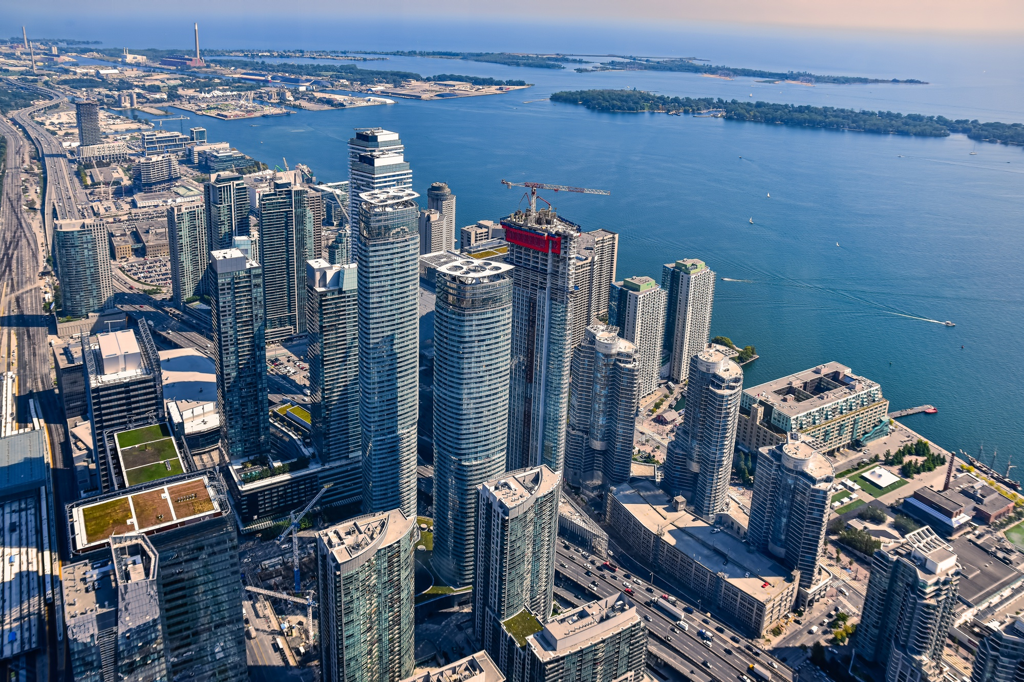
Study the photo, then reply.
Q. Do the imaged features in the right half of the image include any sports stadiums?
No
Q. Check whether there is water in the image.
Yes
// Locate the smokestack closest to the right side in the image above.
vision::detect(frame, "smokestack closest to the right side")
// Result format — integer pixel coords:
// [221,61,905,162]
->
[942,451,958,494]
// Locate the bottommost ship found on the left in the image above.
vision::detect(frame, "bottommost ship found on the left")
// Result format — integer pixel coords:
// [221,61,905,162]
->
[290,166,322,179]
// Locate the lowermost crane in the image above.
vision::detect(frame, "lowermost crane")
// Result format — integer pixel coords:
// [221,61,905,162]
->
[242,584,318,662]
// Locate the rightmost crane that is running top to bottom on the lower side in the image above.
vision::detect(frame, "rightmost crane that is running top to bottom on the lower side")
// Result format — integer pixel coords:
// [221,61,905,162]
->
[276,483,329,587]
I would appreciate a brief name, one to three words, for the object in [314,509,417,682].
building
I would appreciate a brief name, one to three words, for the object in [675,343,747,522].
building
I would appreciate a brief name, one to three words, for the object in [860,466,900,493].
tent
